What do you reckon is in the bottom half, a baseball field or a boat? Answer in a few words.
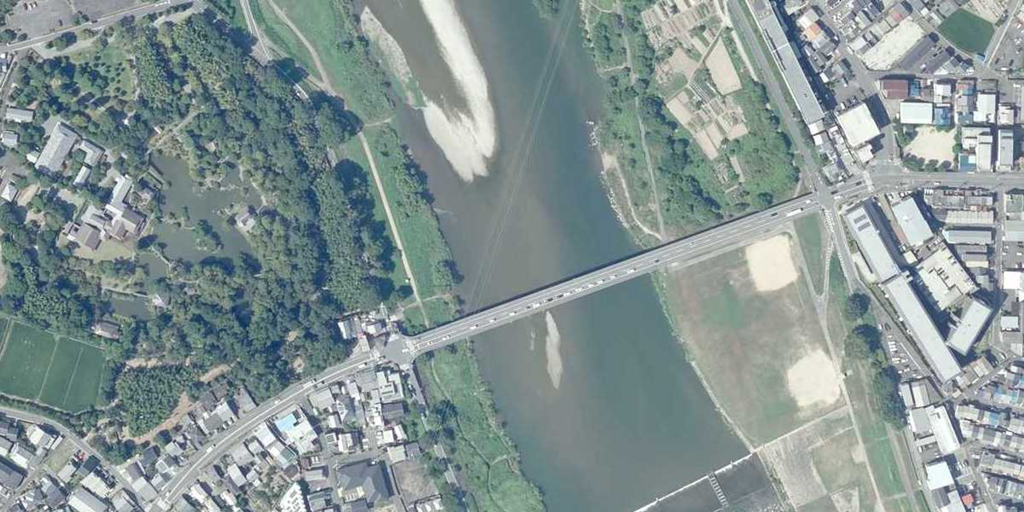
baseball field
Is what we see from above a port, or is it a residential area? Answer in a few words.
residential area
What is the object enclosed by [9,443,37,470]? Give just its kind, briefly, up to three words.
house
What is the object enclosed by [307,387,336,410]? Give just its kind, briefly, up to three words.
house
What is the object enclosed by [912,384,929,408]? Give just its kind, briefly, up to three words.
shed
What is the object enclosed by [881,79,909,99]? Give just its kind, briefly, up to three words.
building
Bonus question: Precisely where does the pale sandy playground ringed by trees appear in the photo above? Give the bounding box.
[902,126,957,163]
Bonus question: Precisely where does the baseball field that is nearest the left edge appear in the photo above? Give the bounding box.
[744,236,794,290]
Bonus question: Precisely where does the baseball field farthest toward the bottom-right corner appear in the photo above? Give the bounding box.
[786,348,841,407]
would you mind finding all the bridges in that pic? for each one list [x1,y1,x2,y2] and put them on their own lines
[408,189,824,358]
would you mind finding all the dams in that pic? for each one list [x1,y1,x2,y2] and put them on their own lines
[635,453,753,512]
